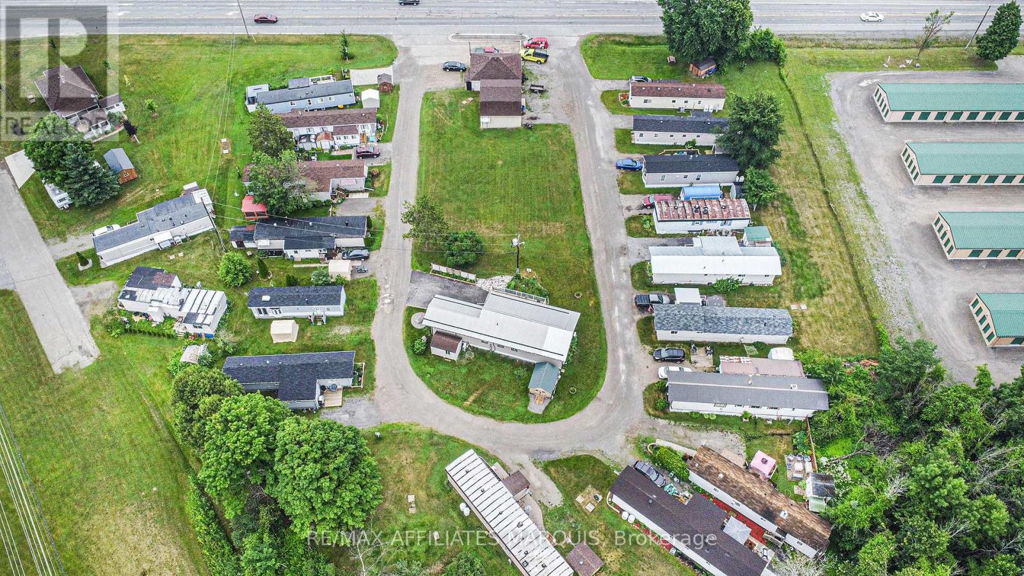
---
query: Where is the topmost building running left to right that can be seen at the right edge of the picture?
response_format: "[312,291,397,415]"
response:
[873,81,1024,122]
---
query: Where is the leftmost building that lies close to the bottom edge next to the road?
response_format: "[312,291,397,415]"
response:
[445,449,573,576]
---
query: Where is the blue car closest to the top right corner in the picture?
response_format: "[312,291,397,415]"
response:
[616,159,643,172]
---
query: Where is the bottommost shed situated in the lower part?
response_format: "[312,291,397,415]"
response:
[568,533,616,576]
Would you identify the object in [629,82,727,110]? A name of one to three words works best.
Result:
house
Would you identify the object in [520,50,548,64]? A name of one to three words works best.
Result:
vehicle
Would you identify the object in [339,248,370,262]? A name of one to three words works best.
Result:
car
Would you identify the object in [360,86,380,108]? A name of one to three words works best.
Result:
shed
